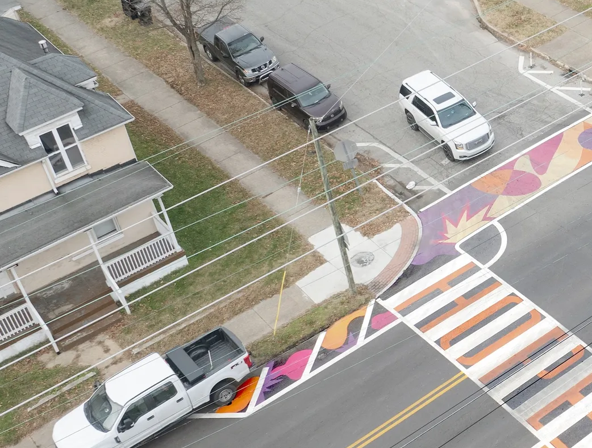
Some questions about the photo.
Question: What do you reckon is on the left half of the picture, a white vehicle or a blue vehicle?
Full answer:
Visible on the left half of the picture is a white vehicle.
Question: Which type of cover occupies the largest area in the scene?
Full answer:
For the most part, this view shows paved ground.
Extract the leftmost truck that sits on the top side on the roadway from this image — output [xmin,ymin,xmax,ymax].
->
[199,19,285,88]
